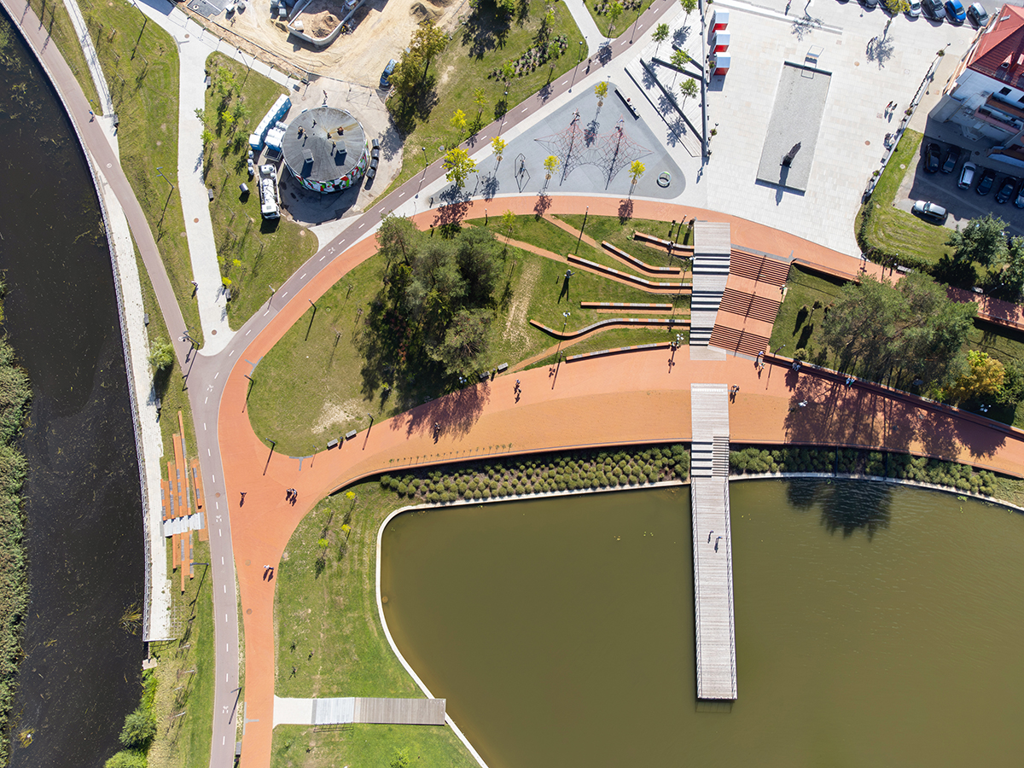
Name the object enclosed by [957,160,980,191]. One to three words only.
car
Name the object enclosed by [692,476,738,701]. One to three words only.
pier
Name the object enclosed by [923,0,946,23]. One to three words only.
car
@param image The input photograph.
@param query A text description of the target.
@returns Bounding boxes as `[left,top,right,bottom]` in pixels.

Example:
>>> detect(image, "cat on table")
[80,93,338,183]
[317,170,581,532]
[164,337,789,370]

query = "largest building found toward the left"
[278,103,369,195]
